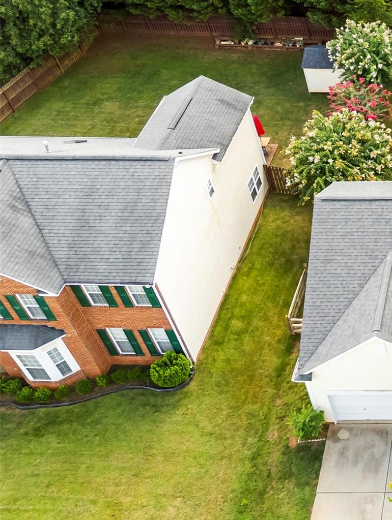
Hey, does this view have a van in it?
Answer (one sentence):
No, I can see no van in this picture.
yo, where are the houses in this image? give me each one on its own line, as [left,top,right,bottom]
[0,76,271,387]
[290,181,392,424]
